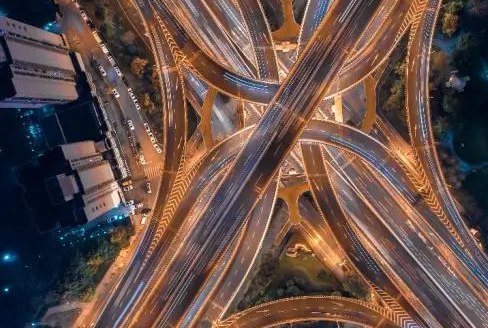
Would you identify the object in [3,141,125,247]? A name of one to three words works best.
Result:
building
